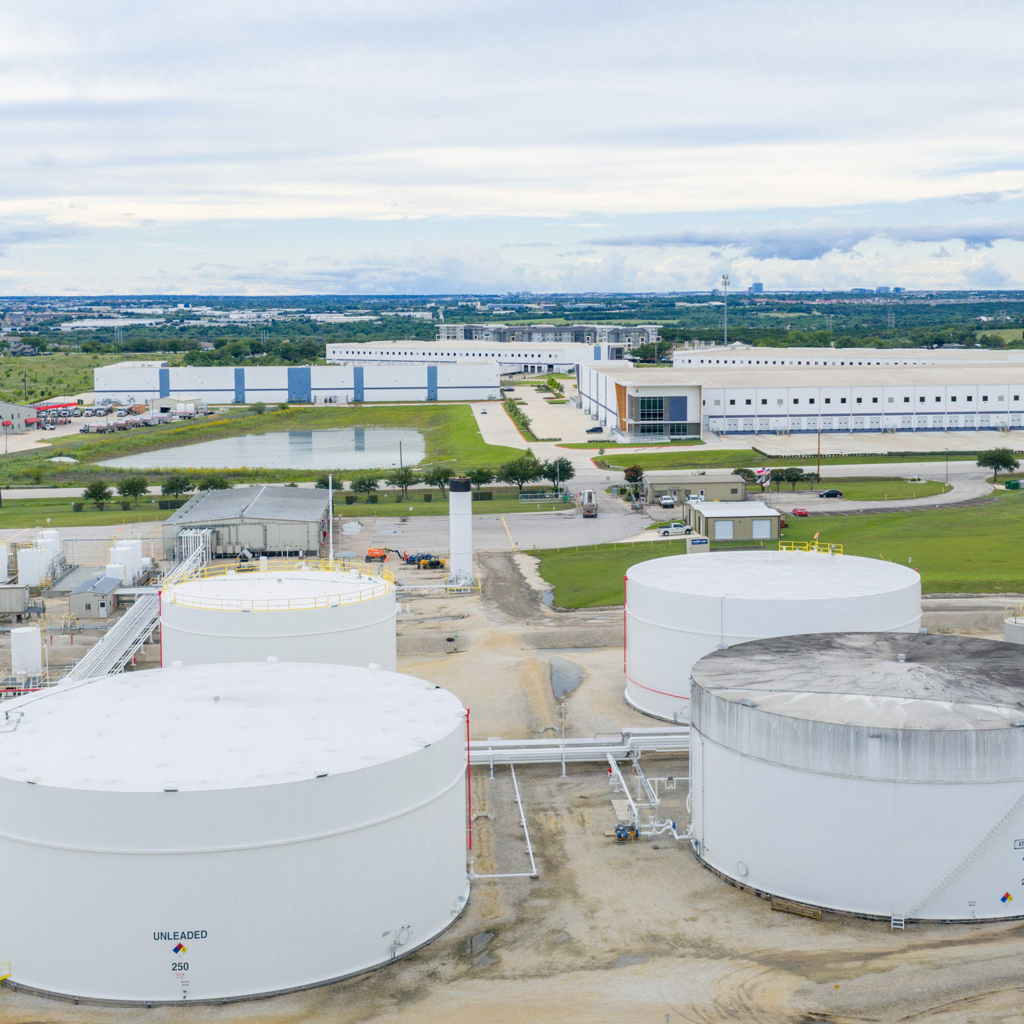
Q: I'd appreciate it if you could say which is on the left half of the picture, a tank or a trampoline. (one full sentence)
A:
Looking on the left half of the picture, you will find a tank.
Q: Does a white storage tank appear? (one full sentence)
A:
Yes, I can see a white storage tank in this picture.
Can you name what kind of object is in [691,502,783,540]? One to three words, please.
building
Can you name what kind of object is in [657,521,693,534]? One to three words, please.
vehicle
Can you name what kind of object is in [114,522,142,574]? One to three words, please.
storage tank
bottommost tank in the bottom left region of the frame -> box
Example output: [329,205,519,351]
[0,657,474,1009]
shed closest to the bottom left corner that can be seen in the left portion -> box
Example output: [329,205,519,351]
[67,571,124,618]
